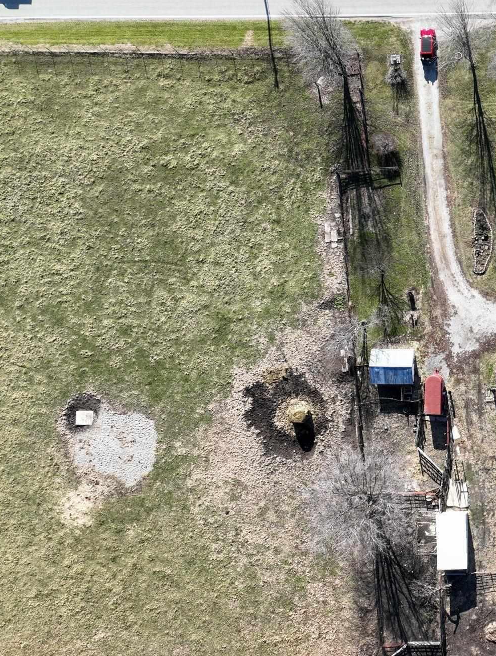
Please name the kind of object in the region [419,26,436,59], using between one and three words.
car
